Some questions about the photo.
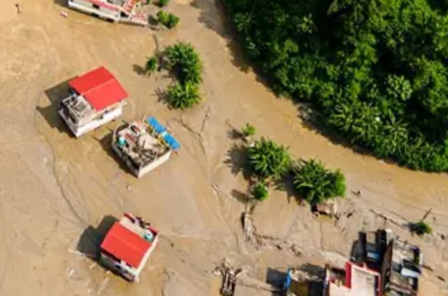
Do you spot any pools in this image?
No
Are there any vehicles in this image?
No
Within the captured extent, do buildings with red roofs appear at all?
Yes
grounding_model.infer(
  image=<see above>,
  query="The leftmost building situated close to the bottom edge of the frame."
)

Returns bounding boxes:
[98,208,166,282]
